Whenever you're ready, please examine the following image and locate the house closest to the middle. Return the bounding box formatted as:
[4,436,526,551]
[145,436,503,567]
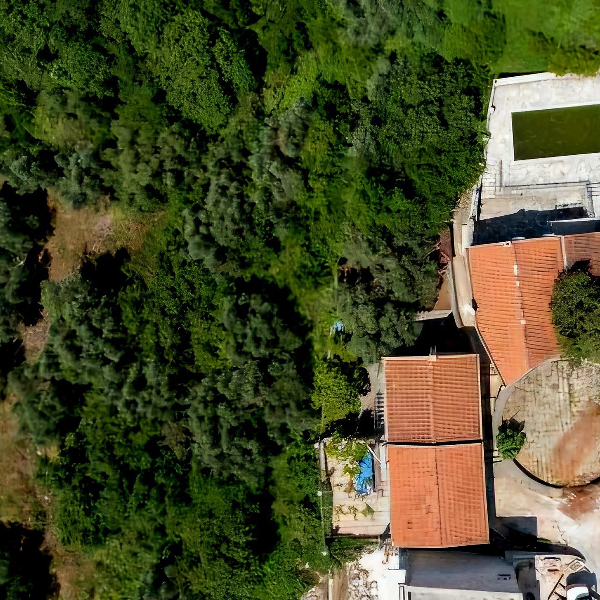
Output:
[381,353,483,442]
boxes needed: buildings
[399,584,523,600]
[469,235,566,385]
[381,353,483,442]
[387,443,490,548]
